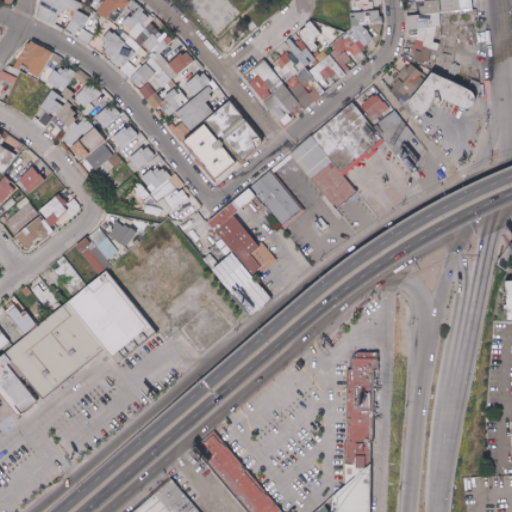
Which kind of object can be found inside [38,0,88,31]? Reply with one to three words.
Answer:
house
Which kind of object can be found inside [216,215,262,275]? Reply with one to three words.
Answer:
building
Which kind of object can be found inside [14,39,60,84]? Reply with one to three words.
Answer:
house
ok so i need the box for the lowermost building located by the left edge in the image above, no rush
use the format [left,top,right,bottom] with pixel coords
[0,354,37,412]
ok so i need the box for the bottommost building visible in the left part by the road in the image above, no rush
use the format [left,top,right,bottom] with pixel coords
[128,479,200,512]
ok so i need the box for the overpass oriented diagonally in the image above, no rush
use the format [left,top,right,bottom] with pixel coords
[43,168,512,512]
